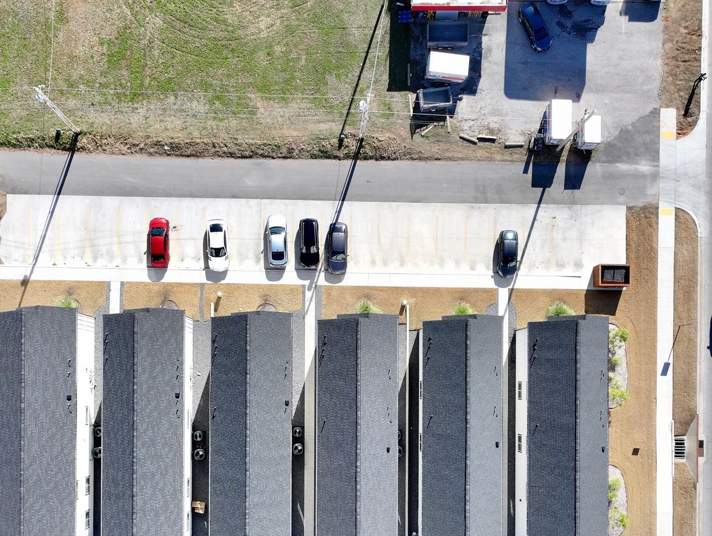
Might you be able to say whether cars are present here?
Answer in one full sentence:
Yes, the frame does contain a car.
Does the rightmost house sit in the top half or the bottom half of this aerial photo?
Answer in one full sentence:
Seen from above, the rightmost house lies in the bottom half of the view.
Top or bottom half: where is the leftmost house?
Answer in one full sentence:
You can find the leftmost house in the bottom half.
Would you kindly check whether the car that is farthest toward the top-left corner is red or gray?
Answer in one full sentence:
The color of the car that is farthest toward the top-left corner is red.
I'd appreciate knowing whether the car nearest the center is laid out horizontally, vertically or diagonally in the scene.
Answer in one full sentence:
From this overhead view, the car nearest the center appears to run vertically.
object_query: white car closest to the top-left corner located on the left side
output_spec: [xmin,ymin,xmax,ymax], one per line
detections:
[205,220,229,272]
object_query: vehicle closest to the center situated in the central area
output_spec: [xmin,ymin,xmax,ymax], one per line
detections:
[326,223,350,275]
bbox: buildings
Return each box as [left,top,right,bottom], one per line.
[410,0,508,23]
[515,313,610,536]
[209,308,293,536]
[100,306,193,536]
[0,305,95,536]
[316,312,399,536]
[419,313,504,536]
